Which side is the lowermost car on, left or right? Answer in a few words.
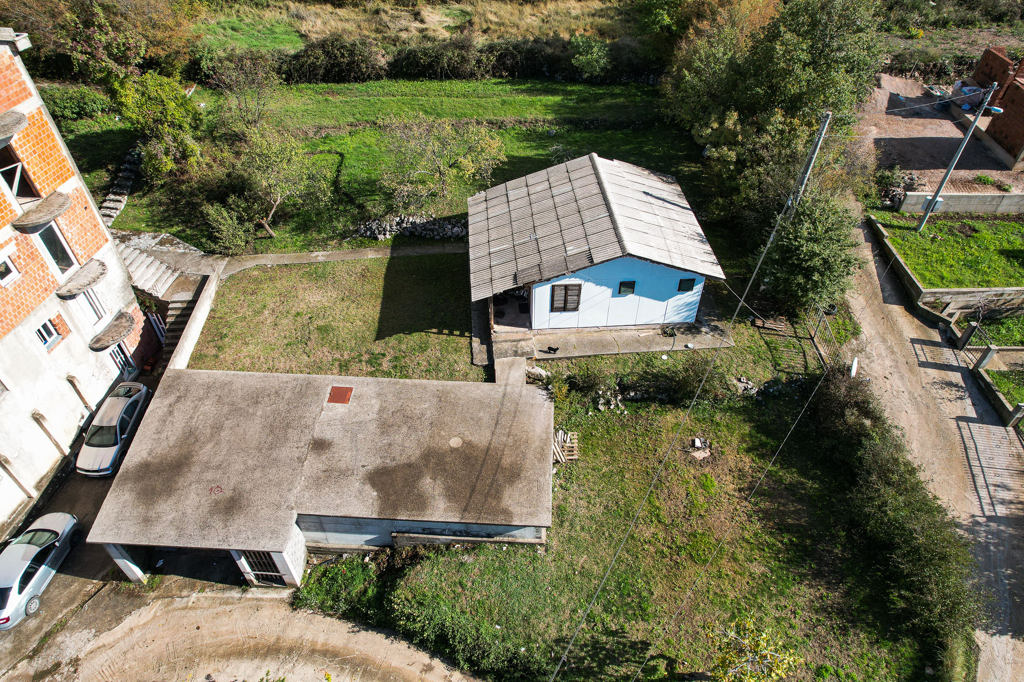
left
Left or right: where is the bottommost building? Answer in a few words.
left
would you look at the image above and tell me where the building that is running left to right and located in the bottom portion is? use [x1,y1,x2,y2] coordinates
[87,369,553,595]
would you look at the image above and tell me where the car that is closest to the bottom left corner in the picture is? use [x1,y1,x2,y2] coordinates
[0,511,88,645]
